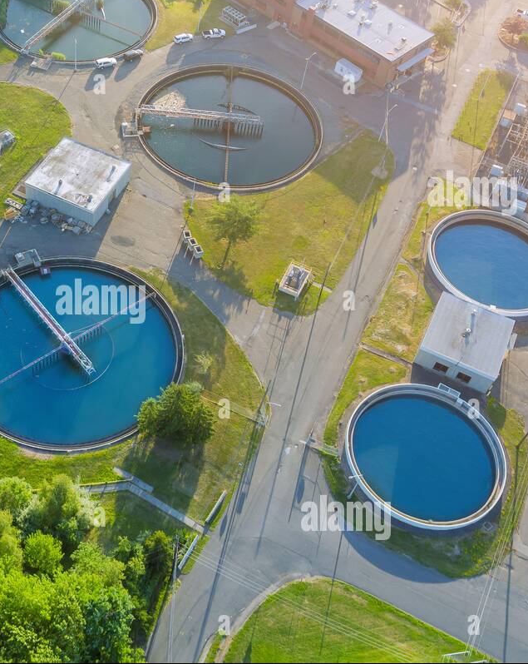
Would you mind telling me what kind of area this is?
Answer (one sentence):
It's an industrial area.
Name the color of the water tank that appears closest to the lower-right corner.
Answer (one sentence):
The water tank that appears closest to the lower-right corner is blue.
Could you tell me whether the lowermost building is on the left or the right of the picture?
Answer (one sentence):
You can find the lowermost building on the right side of the picture.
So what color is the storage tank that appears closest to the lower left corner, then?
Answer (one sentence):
From above, the storage tank that appears closest to the lower left corner appears blue.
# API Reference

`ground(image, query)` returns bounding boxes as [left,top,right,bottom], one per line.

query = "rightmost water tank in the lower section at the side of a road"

[339,379,509,538]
